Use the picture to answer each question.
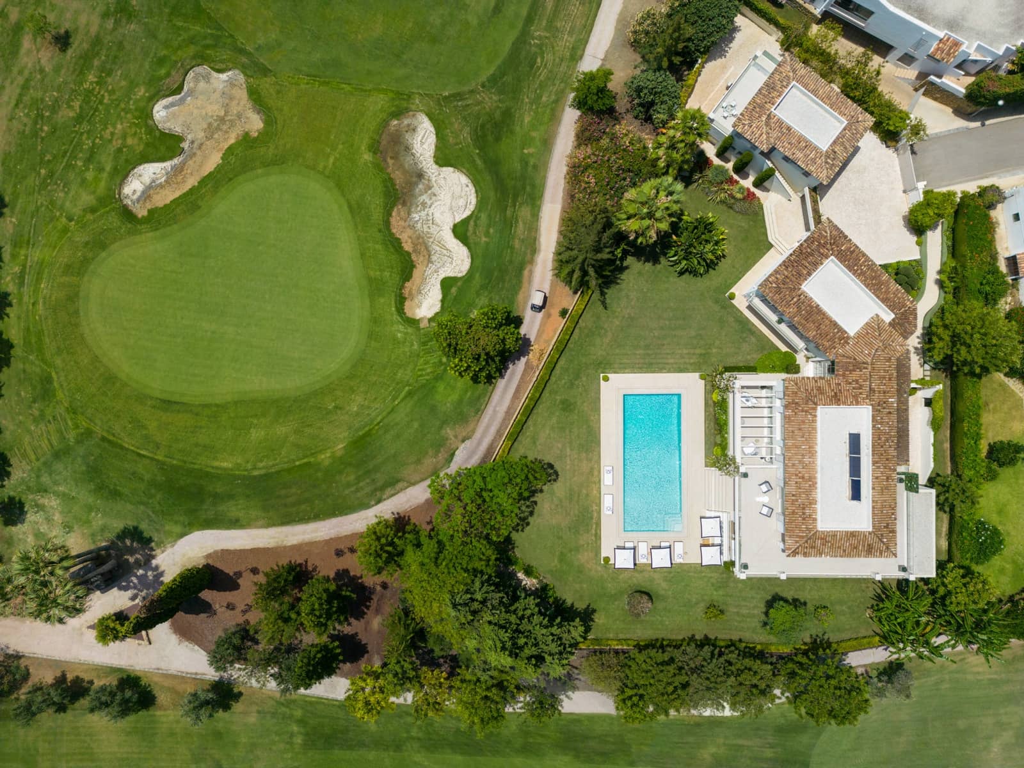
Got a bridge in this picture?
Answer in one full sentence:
No, there is no bridge in the image.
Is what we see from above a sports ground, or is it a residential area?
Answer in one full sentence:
What you see here is a residential area.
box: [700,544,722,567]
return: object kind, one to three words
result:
umbrella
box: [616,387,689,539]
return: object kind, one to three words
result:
swimming pool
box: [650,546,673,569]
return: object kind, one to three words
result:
umbrella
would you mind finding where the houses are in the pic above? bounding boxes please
[698,49,876,192]
[729,216,941,581]
[799,0,1024,87]
[1002,191,1024,301]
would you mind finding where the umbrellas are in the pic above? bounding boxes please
[700,544,722,567]
[613,547,635,569]
[650,546,673,569]
[700,516,722,539]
